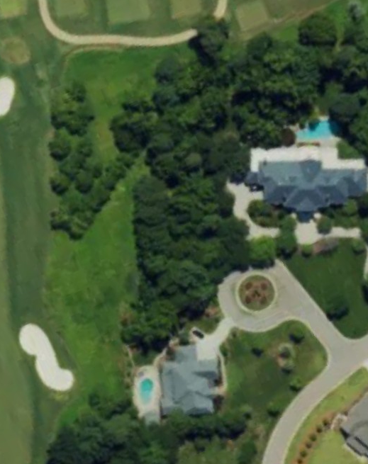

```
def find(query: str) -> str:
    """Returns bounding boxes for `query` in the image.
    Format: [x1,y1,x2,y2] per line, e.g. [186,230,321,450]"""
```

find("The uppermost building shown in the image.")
[245,158,367,223]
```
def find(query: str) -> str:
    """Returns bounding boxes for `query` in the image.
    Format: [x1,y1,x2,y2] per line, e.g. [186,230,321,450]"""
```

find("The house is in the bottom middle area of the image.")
[152,344,219,421]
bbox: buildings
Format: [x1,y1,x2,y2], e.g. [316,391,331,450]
[339,390,368,456]
[152,344,219,421]
[245,158,367,223]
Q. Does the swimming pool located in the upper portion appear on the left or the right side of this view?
right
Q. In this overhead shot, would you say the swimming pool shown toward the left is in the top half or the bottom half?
bottom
